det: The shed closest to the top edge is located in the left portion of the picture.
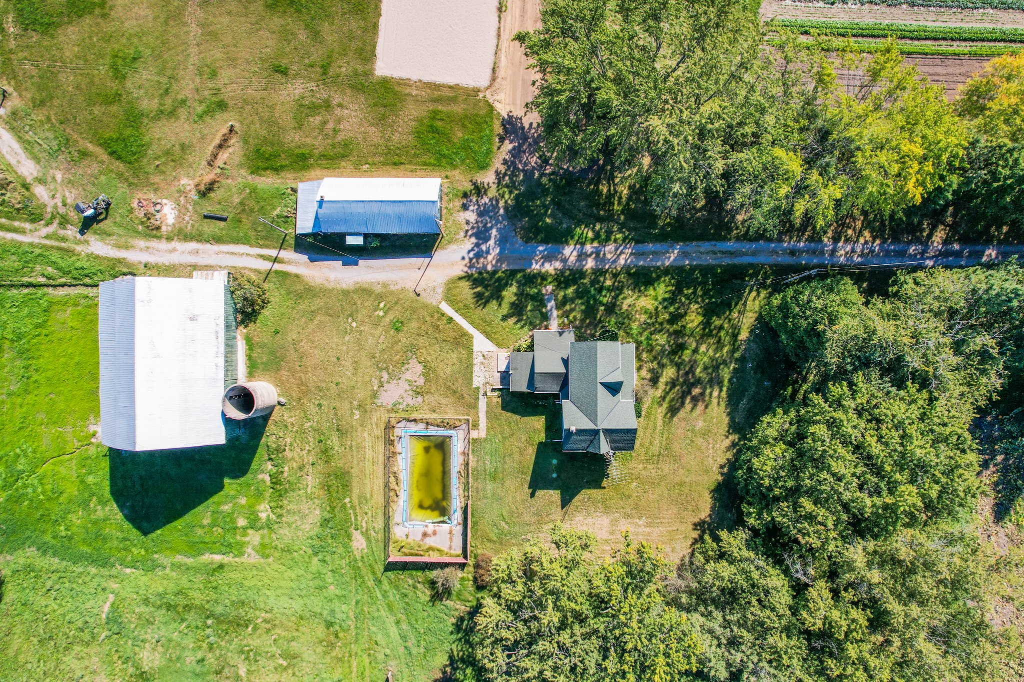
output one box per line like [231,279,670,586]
[295,177,442,246]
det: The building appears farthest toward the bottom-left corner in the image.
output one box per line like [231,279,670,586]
[99,276,241,453]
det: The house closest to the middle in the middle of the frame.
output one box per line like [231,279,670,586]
[509,330,638,455]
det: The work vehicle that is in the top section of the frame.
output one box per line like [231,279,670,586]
[66,191,113,222]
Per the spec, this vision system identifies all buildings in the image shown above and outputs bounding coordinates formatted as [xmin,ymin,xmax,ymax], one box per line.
[295,177,442,246]
[99,276,241,453]
[509,330,638,455]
